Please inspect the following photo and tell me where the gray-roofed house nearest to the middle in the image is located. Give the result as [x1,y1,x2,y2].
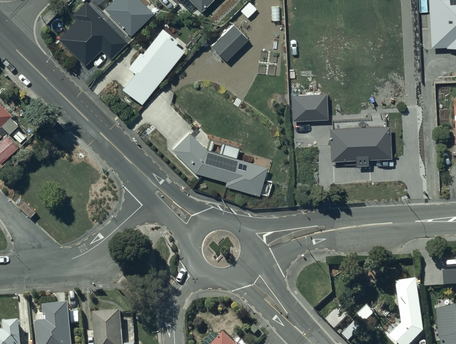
[174,134,267,198]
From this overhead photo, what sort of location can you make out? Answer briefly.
residential area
